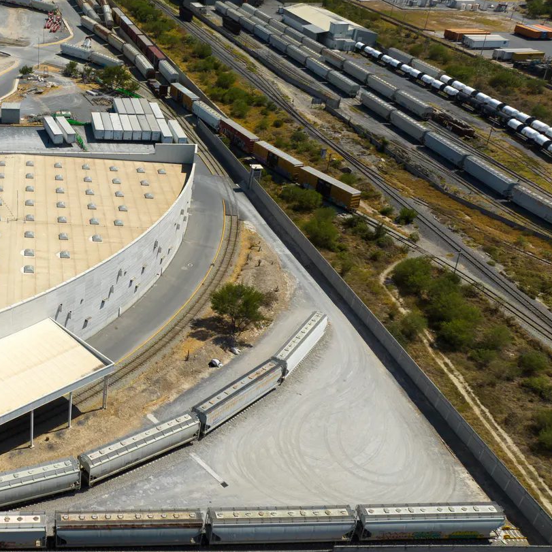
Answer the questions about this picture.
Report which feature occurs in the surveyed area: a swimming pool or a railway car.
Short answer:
railway car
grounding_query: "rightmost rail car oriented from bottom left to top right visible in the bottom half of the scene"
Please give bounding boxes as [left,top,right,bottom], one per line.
[274,310,333,381]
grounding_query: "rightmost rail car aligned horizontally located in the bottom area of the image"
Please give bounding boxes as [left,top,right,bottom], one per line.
[353,500,509,542]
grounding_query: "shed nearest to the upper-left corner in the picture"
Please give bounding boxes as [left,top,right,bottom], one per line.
[1,102,20,123]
